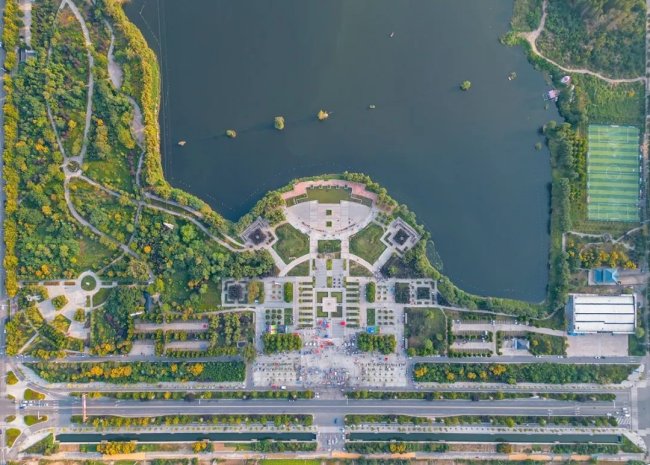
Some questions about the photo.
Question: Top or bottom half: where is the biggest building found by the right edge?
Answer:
bottom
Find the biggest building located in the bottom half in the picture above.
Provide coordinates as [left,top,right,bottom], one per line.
[566,293,636,335]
